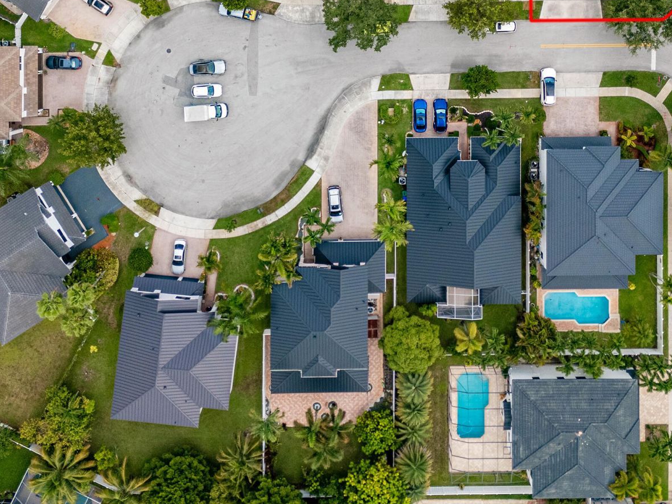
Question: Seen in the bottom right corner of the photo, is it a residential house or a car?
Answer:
residential house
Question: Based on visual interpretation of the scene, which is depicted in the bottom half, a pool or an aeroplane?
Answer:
pool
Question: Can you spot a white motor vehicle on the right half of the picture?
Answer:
Yes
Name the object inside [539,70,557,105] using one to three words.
car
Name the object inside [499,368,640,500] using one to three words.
house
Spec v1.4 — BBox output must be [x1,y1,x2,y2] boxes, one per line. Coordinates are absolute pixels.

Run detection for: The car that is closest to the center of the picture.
[327,186,343,221]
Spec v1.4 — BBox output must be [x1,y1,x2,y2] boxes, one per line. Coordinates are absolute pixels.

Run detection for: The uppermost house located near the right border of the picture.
[539,136,663,290]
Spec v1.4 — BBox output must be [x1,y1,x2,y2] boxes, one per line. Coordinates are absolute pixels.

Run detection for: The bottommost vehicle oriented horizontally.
[182,103,229,122]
